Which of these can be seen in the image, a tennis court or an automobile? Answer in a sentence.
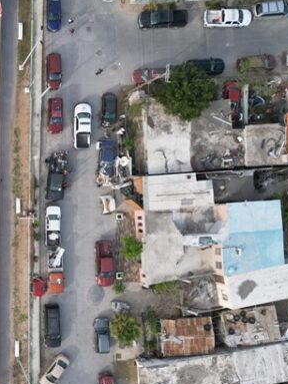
There is an automobile in the scene.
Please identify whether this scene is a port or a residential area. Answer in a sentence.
What you see here is a residential area.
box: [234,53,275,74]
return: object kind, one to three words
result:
car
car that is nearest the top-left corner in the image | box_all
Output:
[44,0,62,34]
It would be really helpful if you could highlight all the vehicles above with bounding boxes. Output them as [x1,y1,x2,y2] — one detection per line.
[251,0,288,20]
[234,53,275,74]
[45,248,65,294]
[37,351,71,384]
[92,317,111,352]
[202,7,251,29]
[94,239,115,287]
[45,53,63,90]
[46,97,63,134]
[97,369,114,384]
[136,8,189,29]
[72,103,93,150]
[221,80,243,127]
[43,303,62,346]
[44,0,62,34]
[185,57,225,77]
[100,92,119,130]
[130,67,171,86]
[47,153,67,200]
[44,205,62,246]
